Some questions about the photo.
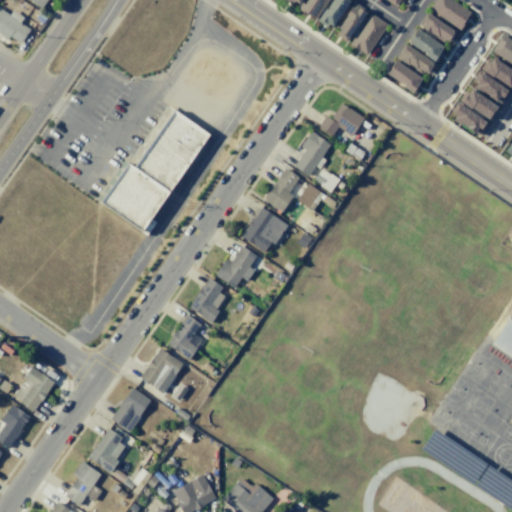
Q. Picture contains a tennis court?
No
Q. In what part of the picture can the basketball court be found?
bottom right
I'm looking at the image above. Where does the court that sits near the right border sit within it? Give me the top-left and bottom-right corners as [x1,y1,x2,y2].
[432,327,512,481]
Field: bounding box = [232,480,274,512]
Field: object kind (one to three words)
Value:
house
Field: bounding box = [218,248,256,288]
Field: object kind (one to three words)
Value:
house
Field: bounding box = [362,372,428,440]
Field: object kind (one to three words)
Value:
baseball field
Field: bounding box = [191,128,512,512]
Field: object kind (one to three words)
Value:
sports field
